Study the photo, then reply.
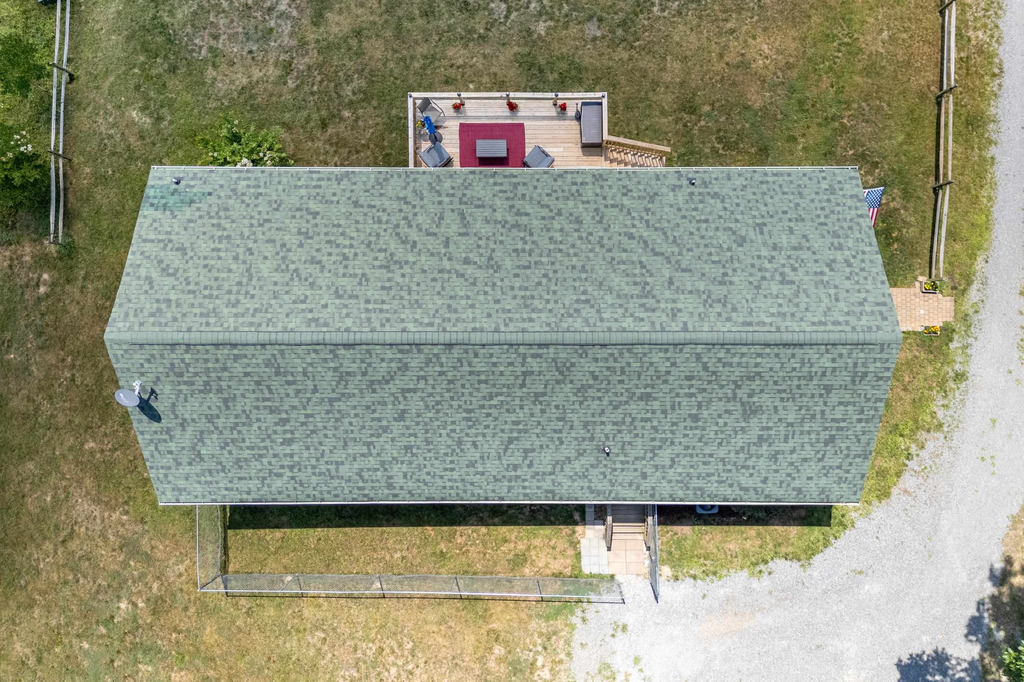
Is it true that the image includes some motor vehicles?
No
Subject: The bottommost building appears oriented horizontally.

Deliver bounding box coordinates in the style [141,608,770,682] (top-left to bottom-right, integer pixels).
[104,165,903,506]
